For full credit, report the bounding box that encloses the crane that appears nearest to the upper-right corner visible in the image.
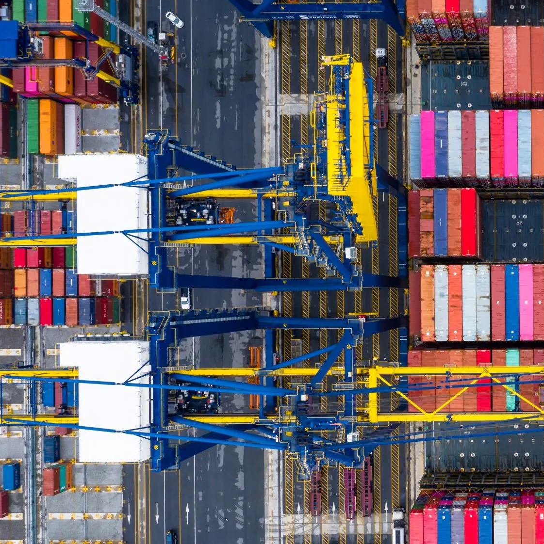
[218,0,407,71]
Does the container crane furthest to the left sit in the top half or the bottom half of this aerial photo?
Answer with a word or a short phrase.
top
